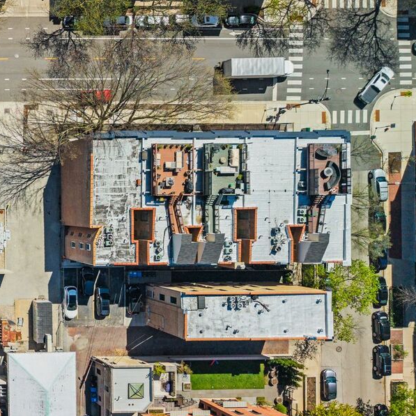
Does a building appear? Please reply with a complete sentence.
Yes, there's a building here.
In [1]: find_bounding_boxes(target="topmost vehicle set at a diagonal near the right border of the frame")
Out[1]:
[360,67,396,104]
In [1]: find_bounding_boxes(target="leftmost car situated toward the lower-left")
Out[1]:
[64,287,79,320]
